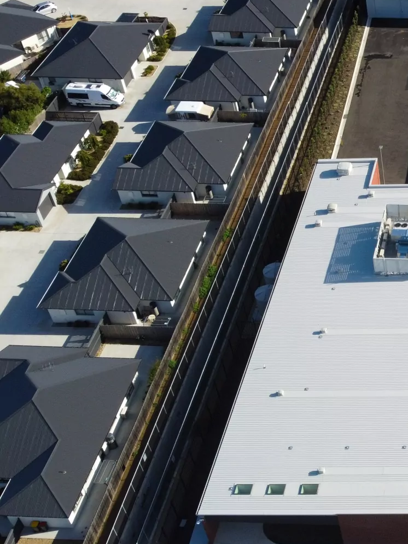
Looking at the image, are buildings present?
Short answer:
Yes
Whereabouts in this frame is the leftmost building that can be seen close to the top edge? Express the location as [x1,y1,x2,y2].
[0,3,60,70]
